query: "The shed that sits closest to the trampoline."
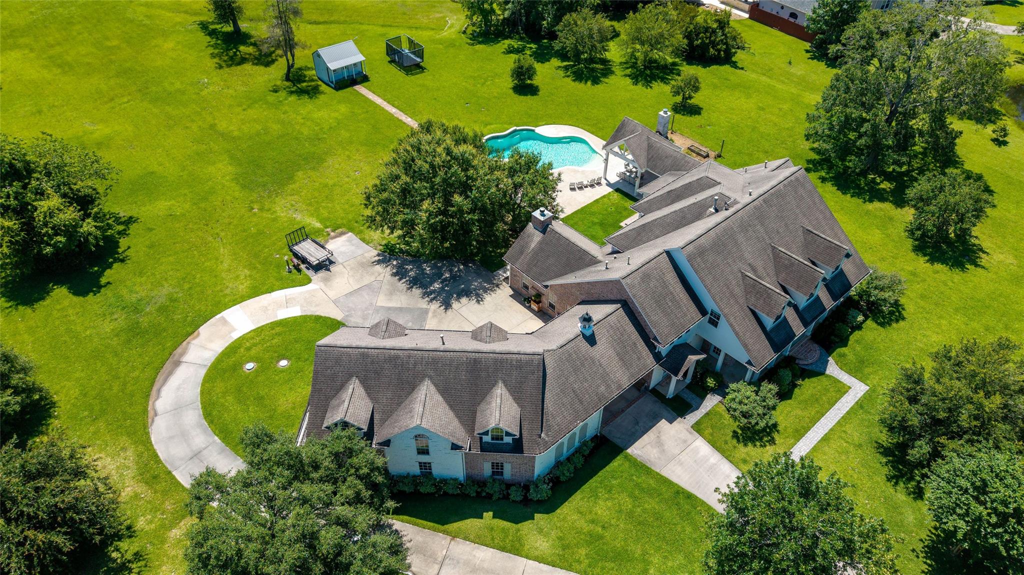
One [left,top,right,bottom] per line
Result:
[311,37,363,88]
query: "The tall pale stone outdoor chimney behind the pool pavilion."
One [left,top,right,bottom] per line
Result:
[656,109,673,137]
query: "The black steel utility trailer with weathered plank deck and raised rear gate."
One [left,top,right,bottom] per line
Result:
[286,225,332,267]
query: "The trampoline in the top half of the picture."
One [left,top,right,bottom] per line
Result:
[386,34,426,73]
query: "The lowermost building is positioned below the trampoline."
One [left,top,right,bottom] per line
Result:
[293,159,872,482]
